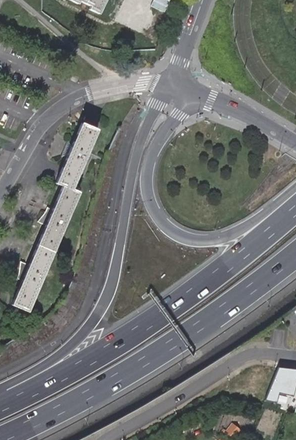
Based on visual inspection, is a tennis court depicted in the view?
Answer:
No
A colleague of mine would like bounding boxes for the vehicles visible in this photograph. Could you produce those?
[112,384,122,392]
[162,294,174,304]
[6,89,14,100]
[105,332,116,341]
[46,420,56,428]
[272,263,283,272]
[232,242,242,251]
[113,338,125,347]
[228,306,240,318]
[26,410,38,418]
[13,92,20,104]
[44,379,56,388]
[172,297,186,308]
[1,111,8,126]
[228,100,240,107]
[188,14,194,25]
[176,393,186,401]
[96,373,107,382]
[198,287,212,298]
[24,98,31,110]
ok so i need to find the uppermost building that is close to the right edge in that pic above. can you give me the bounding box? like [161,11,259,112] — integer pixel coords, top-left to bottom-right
[266,365,296,402]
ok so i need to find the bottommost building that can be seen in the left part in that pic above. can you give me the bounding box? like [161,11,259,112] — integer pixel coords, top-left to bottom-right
[12,184,82,312]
